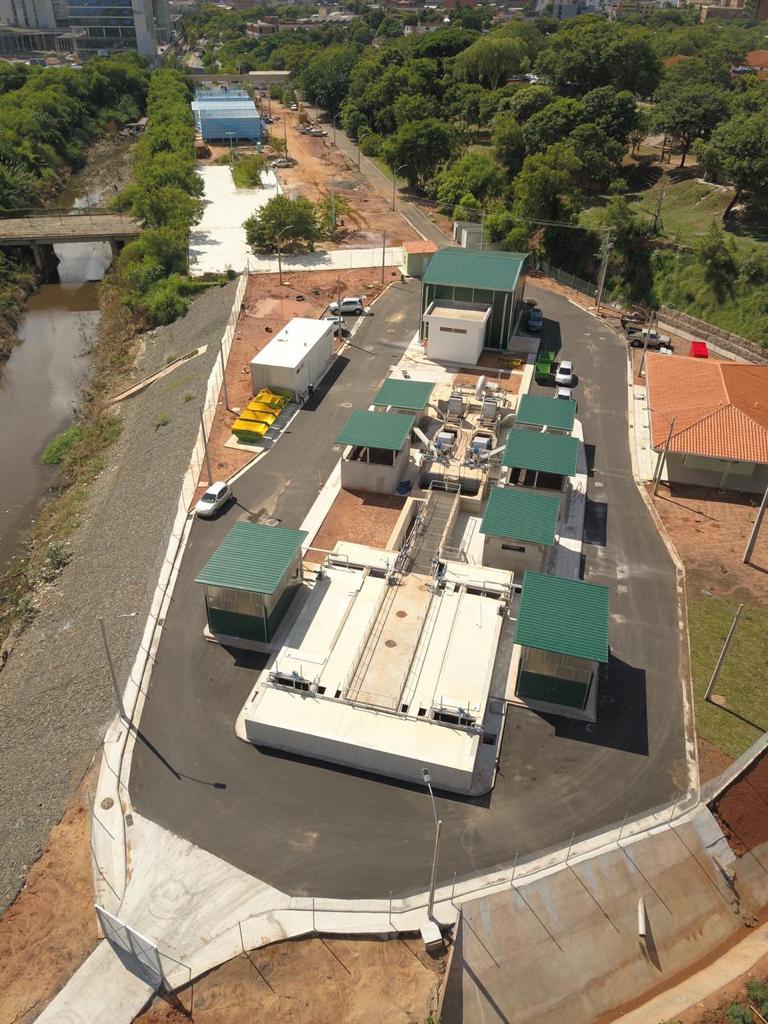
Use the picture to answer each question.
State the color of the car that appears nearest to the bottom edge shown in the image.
white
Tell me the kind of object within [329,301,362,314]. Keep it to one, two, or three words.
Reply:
vehicle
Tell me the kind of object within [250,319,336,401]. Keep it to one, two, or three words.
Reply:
building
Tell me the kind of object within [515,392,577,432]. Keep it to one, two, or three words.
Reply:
shed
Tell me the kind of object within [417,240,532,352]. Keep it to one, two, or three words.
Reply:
building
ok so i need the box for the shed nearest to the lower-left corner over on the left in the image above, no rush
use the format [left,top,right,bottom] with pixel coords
[194,520,307,643]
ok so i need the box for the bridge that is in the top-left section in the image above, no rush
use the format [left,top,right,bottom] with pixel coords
[0,198,139,271]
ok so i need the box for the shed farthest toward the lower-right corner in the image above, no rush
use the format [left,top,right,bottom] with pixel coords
[514,569,612,710]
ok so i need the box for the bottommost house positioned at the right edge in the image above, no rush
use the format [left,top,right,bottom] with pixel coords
[647,354,768,490]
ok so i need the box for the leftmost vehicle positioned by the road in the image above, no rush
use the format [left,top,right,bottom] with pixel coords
[193,481,232,515]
